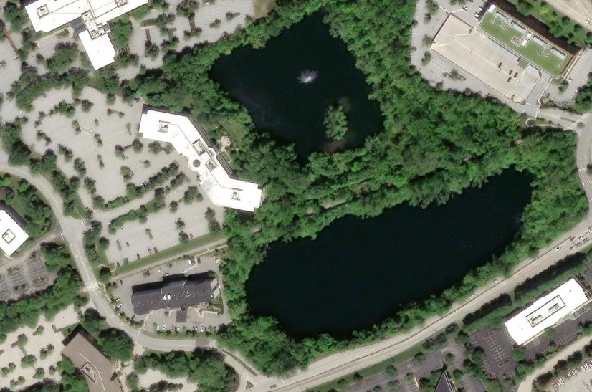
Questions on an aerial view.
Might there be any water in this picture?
Yes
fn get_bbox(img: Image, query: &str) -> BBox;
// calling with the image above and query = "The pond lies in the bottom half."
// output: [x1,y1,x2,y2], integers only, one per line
[248,169,532,339]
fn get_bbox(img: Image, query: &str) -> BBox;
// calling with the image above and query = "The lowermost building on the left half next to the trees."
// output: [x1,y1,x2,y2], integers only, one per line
[62,333,124,392]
